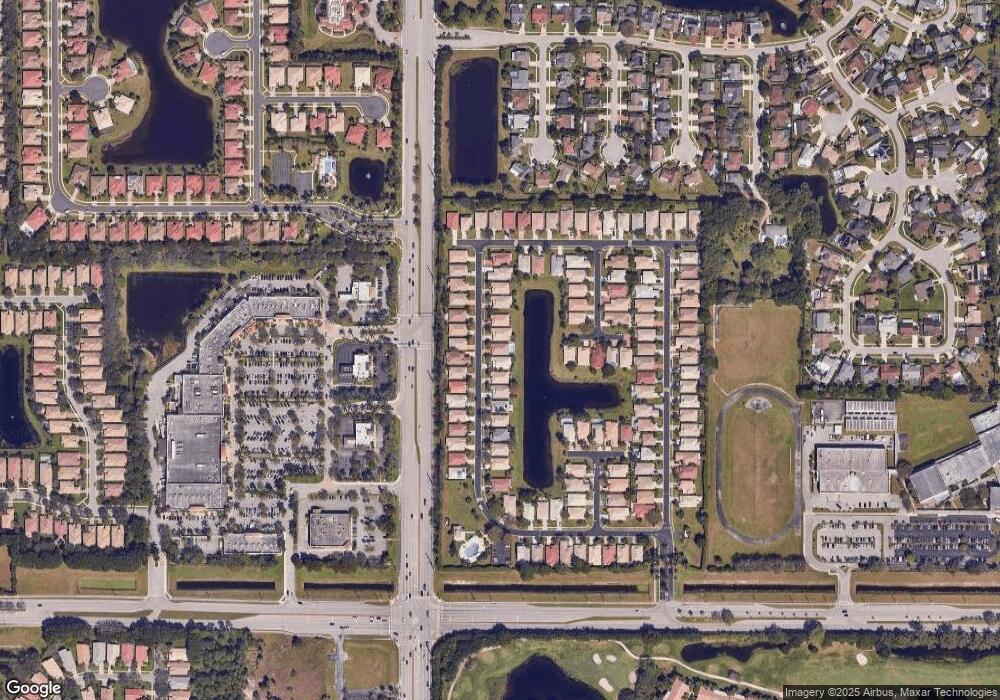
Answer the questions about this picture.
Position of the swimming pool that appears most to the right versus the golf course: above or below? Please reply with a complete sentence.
In the image, the swimming pool that appears most to the right appears above the golf course.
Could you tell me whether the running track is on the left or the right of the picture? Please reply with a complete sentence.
The running track is on the right side of the image.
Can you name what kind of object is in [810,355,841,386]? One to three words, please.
house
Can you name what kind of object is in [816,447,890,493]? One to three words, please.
building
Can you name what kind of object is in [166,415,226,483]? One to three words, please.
building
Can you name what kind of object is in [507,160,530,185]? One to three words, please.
house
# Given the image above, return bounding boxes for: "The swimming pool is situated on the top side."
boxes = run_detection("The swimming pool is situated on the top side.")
[319,156,336,179]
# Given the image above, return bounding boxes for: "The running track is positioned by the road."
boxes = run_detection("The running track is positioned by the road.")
[716,383,803,544]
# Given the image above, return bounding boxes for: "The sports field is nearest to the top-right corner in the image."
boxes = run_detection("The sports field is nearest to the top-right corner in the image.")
[718,298,799,392]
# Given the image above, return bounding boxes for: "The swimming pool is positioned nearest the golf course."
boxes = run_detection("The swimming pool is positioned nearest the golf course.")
[460,536,485,563]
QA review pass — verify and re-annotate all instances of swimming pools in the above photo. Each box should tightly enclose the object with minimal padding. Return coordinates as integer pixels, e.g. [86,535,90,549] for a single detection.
[460,536,485,563]
[319,156,336,179]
